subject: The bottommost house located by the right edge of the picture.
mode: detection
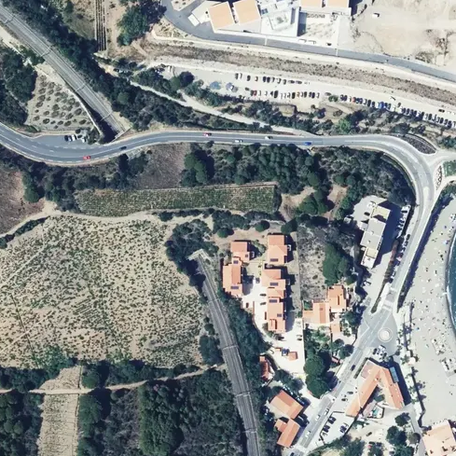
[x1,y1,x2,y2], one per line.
[422,420,456,456]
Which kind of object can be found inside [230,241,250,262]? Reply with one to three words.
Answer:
house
